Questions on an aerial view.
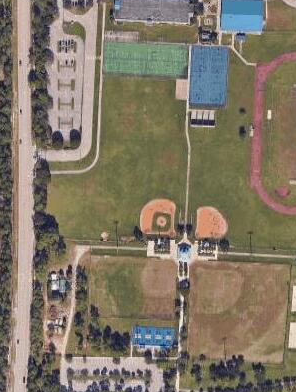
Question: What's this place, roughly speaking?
sports ground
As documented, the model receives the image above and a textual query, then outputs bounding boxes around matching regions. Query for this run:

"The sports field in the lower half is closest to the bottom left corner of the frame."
[90,256,180,321]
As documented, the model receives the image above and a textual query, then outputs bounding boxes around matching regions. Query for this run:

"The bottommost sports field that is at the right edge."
[187,262,290,363]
